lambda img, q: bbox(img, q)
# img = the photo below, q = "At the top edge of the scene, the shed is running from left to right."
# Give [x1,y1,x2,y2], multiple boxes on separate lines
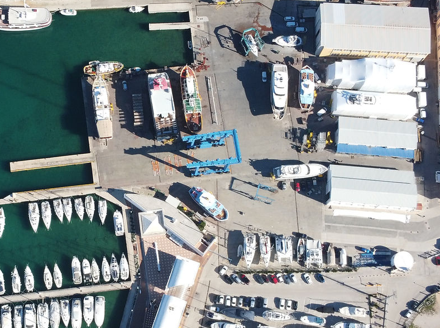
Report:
[315,3,431,62]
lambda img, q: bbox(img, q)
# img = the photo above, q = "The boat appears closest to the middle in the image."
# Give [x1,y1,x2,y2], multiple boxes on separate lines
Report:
[188,185,227,221]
